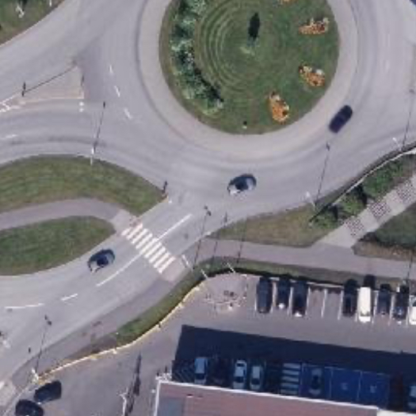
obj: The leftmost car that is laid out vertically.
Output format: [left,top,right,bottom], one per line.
[194,357,209,386]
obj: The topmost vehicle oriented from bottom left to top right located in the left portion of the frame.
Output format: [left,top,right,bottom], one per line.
[86,249,117,274]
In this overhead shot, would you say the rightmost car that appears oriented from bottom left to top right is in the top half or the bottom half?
top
